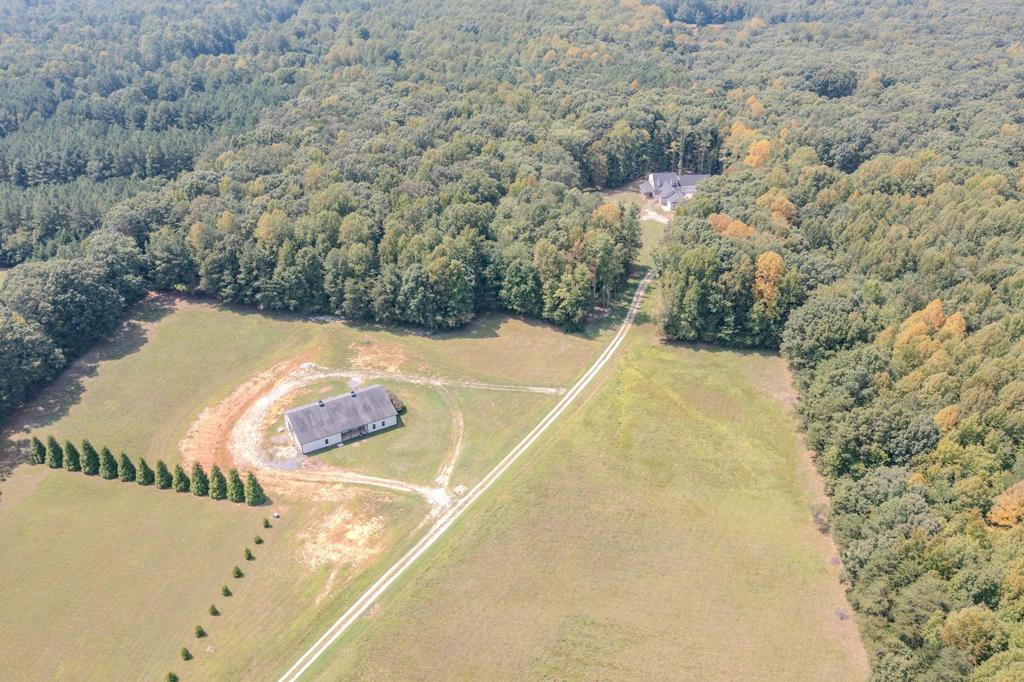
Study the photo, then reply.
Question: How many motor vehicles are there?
0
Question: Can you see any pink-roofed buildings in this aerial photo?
No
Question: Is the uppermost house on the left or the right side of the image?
right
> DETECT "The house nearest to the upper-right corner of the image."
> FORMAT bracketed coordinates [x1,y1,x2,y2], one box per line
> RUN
[640,178,708,211]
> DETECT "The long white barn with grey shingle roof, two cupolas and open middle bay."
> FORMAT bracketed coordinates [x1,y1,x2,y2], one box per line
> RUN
[286,387,399,454]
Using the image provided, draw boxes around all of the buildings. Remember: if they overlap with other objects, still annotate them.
[640,178,708,211]
[286,387,399,454]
